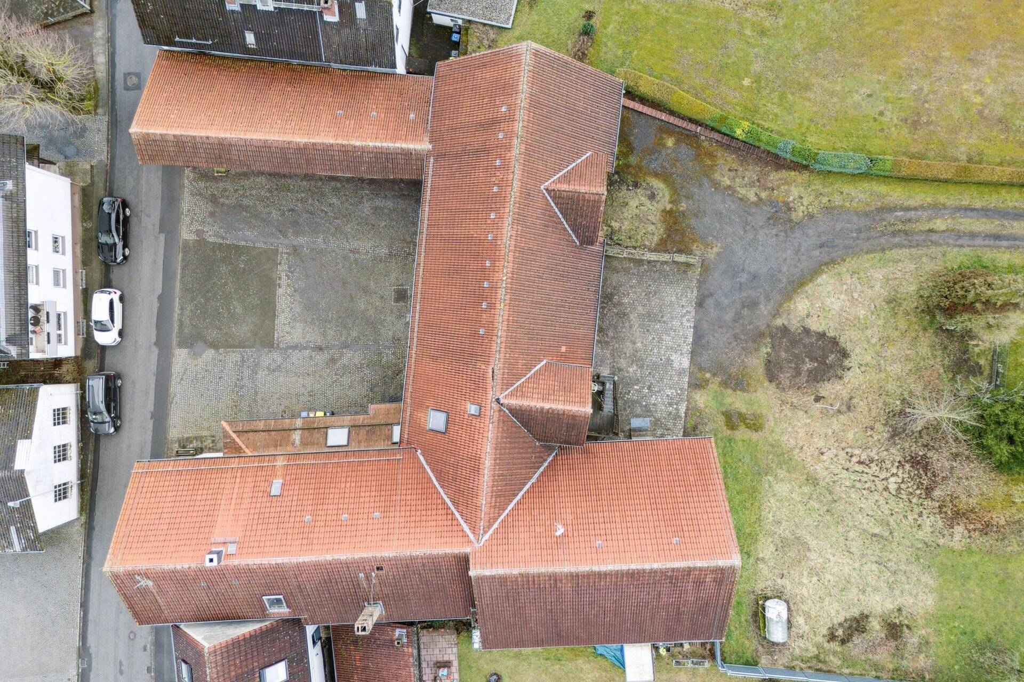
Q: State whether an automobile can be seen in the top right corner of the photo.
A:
No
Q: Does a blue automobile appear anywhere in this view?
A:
No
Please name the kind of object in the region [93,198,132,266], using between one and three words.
car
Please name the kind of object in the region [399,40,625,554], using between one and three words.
barn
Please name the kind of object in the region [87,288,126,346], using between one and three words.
car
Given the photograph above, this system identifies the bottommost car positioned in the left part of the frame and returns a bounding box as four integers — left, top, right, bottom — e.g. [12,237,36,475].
[84,371,125,435]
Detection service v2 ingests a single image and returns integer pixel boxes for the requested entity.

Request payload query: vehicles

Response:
[84,371,125,435]
[87,288,126,346]
[93,198,132,266]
